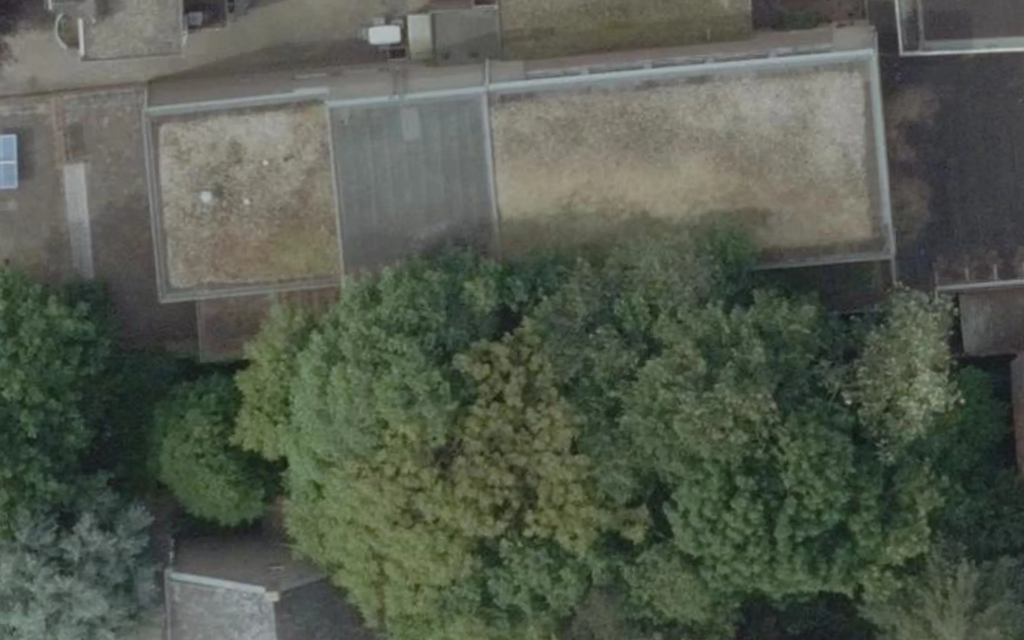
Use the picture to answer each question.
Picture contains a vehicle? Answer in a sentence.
No, I can't see a single vehicle in this photo.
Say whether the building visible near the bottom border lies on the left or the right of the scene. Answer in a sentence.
You can find the building visible near the bottom border on the left side of the picture.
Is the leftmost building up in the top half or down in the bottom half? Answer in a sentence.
It is in the top half that the leftmost building appears.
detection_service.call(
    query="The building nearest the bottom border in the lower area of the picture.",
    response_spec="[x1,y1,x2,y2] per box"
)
[165,562,279,640]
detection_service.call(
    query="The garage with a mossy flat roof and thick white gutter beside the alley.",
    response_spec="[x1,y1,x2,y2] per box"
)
[74,0,186,58]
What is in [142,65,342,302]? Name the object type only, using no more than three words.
house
